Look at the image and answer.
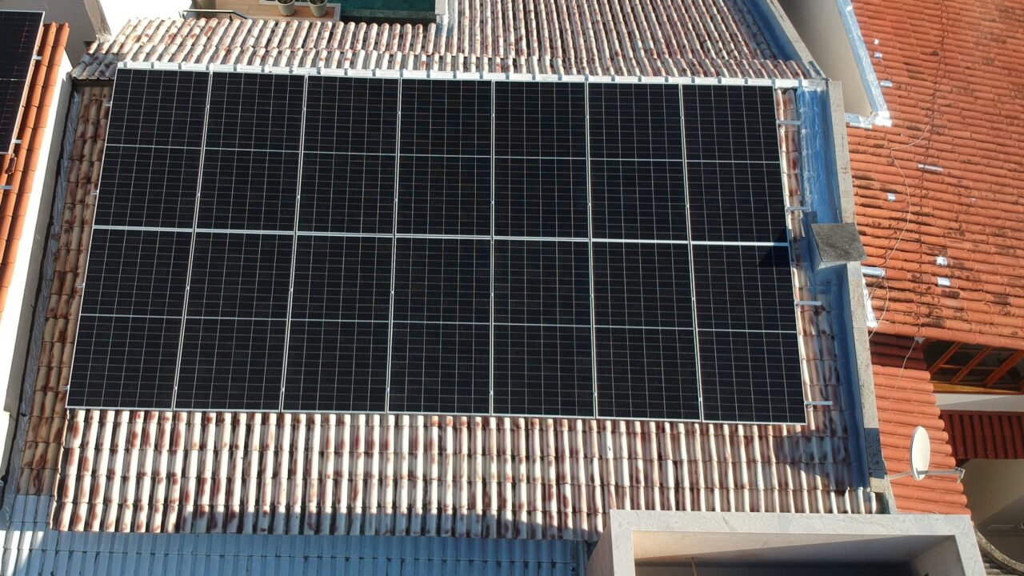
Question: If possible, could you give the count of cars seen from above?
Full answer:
The photo contains no cars.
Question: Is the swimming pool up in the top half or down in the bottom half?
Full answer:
The top half of the photo is where the swimming pool is.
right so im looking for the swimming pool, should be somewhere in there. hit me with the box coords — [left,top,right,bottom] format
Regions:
[340,0,433,34]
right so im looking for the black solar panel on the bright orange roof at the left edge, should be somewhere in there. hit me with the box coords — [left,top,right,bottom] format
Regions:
[0,15,44,159]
